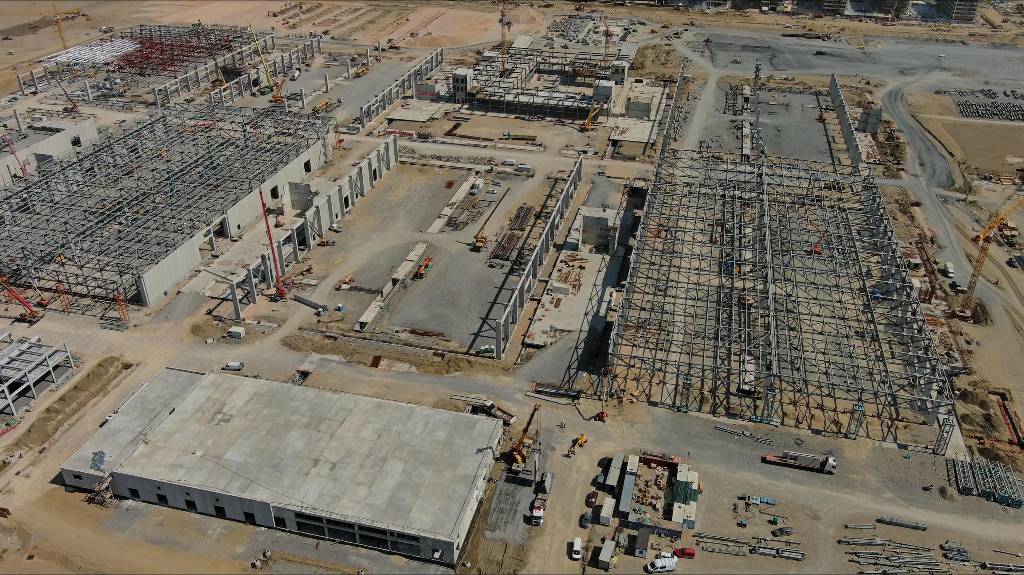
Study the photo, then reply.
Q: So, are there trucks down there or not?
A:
Yes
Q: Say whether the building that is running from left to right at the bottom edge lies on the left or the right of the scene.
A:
left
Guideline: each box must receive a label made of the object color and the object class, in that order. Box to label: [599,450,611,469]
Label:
black vehicle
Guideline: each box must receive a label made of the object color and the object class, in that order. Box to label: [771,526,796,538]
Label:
gray vehicle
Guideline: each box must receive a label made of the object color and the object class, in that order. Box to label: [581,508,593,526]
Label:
gray vehicle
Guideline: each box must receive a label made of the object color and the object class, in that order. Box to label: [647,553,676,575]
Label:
white vehicle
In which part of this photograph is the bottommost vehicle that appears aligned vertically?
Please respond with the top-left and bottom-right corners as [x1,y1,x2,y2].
[570,534,582,560]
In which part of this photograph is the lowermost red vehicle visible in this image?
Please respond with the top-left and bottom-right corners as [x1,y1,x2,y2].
[674,548,698,561]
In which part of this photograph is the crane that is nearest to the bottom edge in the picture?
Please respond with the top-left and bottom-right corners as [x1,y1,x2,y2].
[502,406,542,480]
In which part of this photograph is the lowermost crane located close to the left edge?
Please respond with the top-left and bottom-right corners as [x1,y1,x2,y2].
[0,274,46,326]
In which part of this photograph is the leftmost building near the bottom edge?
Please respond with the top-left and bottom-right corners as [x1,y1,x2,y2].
[62,365,503,564]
